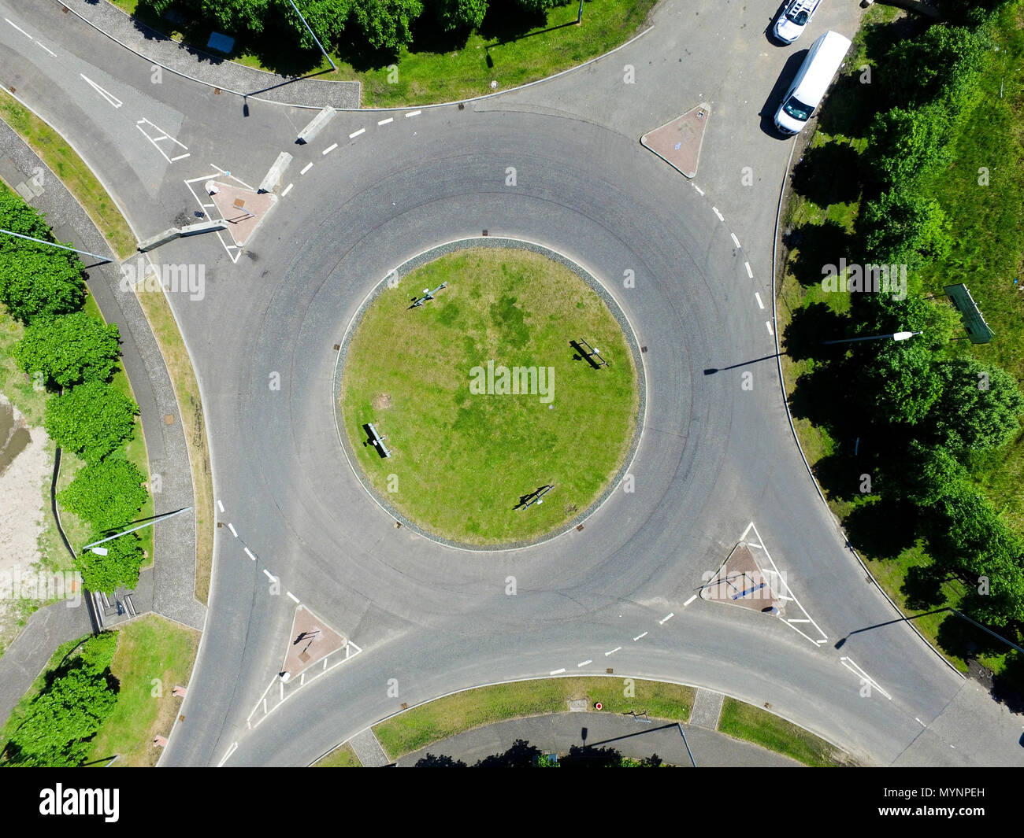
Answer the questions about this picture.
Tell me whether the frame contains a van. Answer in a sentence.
Yes, this view includes a van.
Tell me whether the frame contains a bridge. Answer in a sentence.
No, the photo shows no bridge.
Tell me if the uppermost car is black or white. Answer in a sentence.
From above, the uppermost car appears white.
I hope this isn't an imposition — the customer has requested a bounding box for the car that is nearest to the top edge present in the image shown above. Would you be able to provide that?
[775,0,825,46]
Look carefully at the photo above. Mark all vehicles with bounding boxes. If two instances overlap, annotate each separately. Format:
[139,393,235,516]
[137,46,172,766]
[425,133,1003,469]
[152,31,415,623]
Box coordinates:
[775,33,850,136]
[775,0,825,46]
